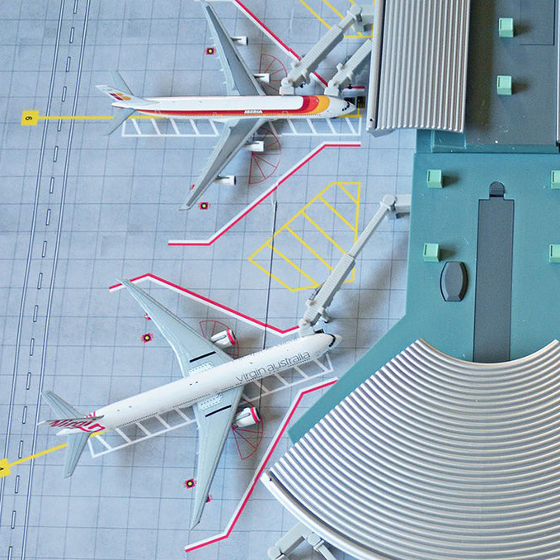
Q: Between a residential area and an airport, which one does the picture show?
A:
airport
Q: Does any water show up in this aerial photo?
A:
No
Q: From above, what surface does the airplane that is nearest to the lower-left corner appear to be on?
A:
apron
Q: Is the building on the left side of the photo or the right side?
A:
right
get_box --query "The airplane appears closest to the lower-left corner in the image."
[40,279,341,526]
